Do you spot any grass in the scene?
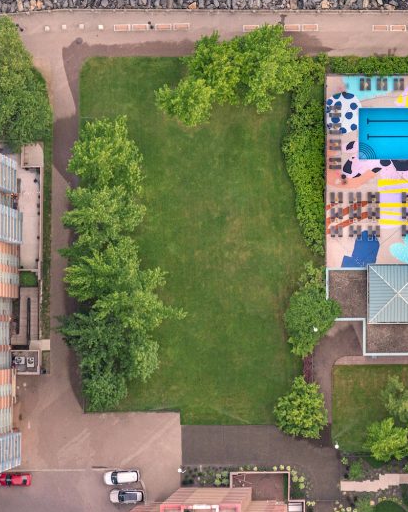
Yes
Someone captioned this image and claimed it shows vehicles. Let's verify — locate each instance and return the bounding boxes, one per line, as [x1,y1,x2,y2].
[0,473,31,487]
[110,489,143,504]
[104,470,138,486]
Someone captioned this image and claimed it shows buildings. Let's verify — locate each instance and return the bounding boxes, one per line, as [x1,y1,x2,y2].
[327,264,408,355]
[128,488,288,512]
[0,154,25,478]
